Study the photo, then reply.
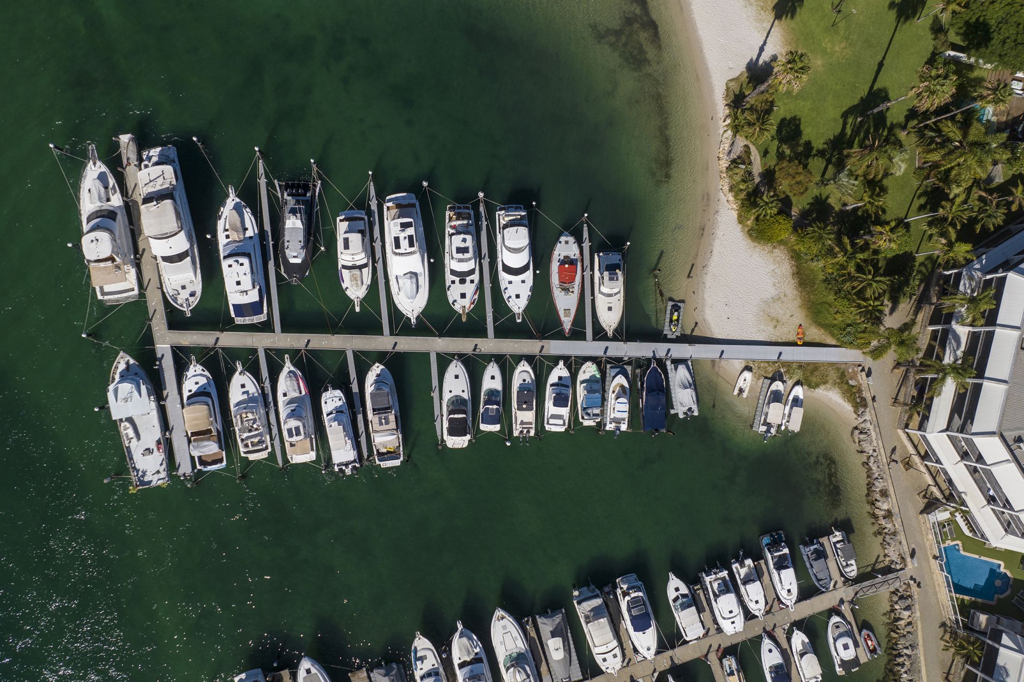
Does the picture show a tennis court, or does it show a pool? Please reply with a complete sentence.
I can see a pool in this picture.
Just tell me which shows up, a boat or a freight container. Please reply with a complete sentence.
The image shows a boat.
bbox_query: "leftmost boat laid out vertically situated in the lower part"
[86,336,174,497]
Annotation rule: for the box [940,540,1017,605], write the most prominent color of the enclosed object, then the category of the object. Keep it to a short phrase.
blue swimming pool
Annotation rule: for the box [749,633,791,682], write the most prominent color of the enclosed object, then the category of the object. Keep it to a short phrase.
white boat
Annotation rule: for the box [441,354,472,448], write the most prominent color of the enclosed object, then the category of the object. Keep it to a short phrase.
white boat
